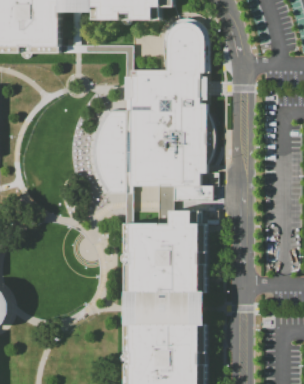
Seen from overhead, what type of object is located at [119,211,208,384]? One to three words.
building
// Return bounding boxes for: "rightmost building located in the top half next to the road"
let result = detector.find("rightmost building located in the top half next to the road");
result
[94,17,226,220]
